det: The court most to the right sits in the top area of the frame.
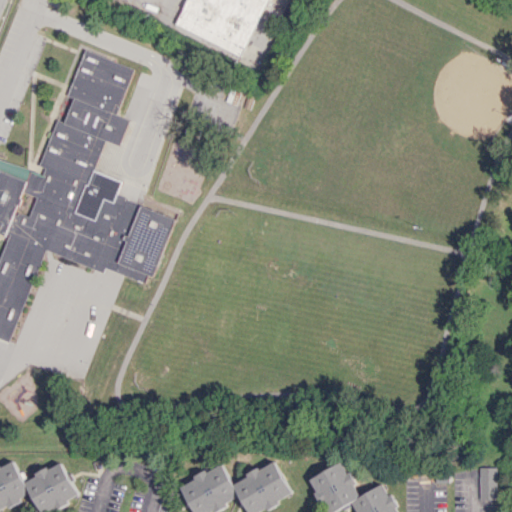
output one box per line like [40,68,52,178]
[159,136,210,204]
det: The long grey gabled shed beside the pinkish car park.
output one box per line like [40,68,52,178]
[480,468,498,503]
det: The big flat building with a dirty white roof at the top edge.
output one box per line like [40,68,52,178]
[176,0,269,56]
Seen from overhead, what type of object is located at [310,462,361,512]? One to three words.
house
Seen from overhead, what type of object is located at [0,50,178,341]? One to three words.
building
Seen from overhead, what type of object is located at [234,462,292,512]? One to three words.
house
